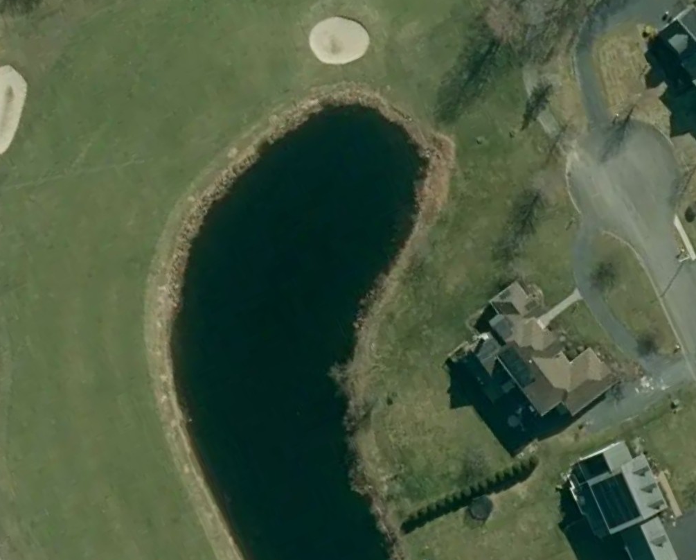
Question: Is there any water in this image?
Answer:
Yes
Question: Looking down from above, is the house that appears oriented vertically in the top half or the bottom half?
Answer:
top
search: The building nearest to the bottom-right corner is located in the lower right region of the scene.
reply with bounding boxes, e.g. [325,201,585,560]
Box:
[568,441,678,560]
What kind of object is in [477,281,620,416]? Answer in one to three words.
house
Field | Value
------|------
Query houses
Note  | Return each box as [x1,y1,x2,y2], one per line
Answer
[568,441,678,560]
[659,3,696,83]
[477,281,620,416]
